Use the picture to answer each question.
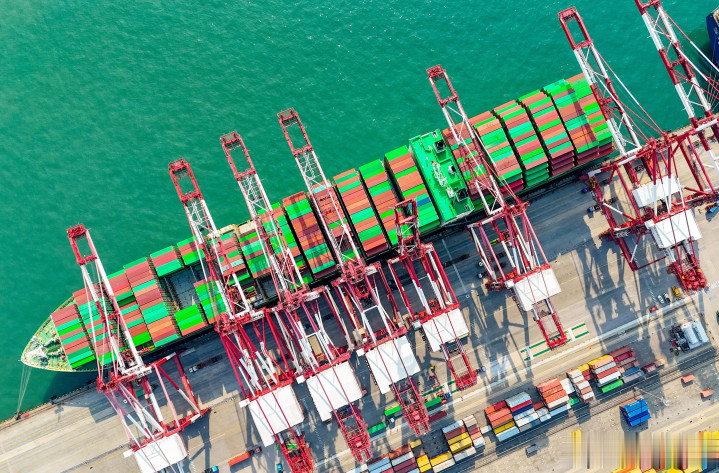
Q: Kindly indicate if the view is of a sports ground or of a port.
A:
port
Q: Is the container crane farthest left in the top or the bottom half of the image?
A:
bottom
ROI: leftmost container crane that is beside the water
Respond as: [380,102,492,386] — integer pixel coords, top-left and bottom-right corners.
[62,220,214,473]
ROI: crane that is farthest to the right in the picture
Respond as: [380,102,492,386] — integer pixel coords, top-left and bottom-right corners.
[637,0,719,246]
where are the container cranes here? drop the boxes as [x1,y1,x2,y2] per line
[637,0,719,246]
[558,1,708,296]
[378,196,480,389]
[276,106,434,440]
[62,220,214,473]
[426,60,569,347]
[219,128,377,466]
[165,154,319,473]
